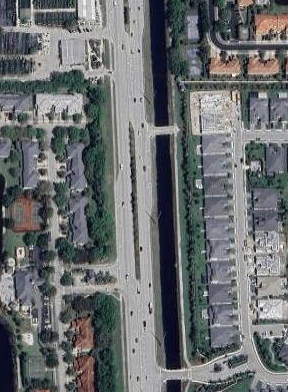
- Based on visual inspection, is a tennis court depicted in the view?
Yes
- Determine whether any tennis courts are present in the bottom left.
Yes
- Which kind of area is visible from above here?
residential area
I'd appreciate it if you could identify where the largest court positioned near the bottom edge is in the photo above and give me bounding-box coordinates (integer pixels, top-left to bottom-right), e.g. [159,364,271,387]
[27,354,48,379]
